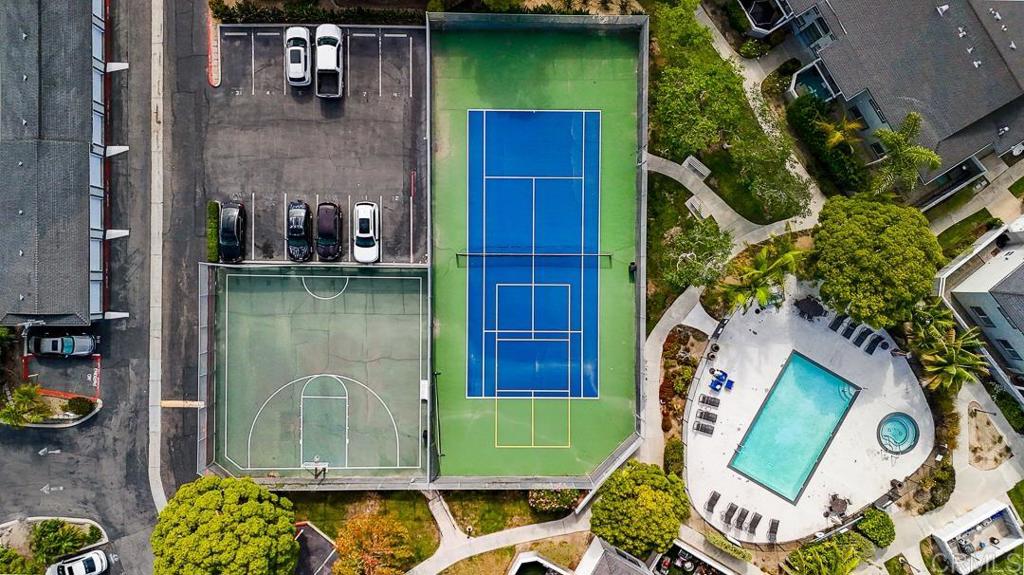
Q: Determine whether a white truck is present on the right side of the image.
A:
No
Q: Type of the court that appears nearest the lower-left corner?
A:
basketball court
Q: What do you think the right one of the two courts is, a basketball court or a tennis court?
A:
tennis court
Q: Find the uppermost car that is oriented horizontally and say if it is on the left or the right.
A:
left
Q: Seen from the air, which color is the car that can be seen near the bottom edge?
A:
white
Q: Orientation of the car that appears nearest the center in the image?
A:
from top to bottom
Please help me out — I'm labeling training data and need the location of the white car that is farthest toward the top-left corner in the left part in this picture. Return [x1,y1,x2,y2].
[282,28,313,88]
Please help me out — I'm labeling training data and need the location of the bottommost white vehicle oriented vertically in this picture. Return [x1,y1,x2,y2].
[351,202,380,264]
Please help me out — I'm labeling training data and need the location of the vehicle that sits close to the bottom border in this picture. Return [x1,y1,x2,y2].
[47,546,109,575]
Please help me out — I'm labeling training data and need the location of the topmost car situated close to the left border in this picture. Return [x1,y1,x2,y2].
[31,332,97,359]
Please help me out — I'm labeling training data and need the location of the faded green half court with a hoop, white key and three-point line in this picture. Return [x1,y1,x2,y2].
[216,266,426,477]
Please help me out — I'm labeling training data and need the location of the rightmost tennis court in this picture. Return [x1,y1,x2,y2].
[430,29,639,477]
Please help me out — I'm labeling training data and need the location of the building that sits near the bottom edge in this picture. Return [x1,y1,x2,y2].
[575,537,651,575]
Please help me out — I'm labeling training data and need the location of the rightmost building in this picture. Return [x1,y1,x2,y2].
[952,233,1024,383]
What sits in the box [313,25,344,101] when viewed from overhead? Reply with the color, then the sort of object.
white truck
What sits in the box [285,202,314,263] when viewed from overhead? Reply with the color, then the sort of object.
black car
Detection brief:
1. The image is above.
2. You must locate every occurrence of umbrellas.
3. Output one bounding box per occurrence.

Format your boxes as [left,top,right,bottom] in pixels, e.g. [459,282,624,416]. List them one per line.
[748,0,777,25]
[796,294,823,320]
